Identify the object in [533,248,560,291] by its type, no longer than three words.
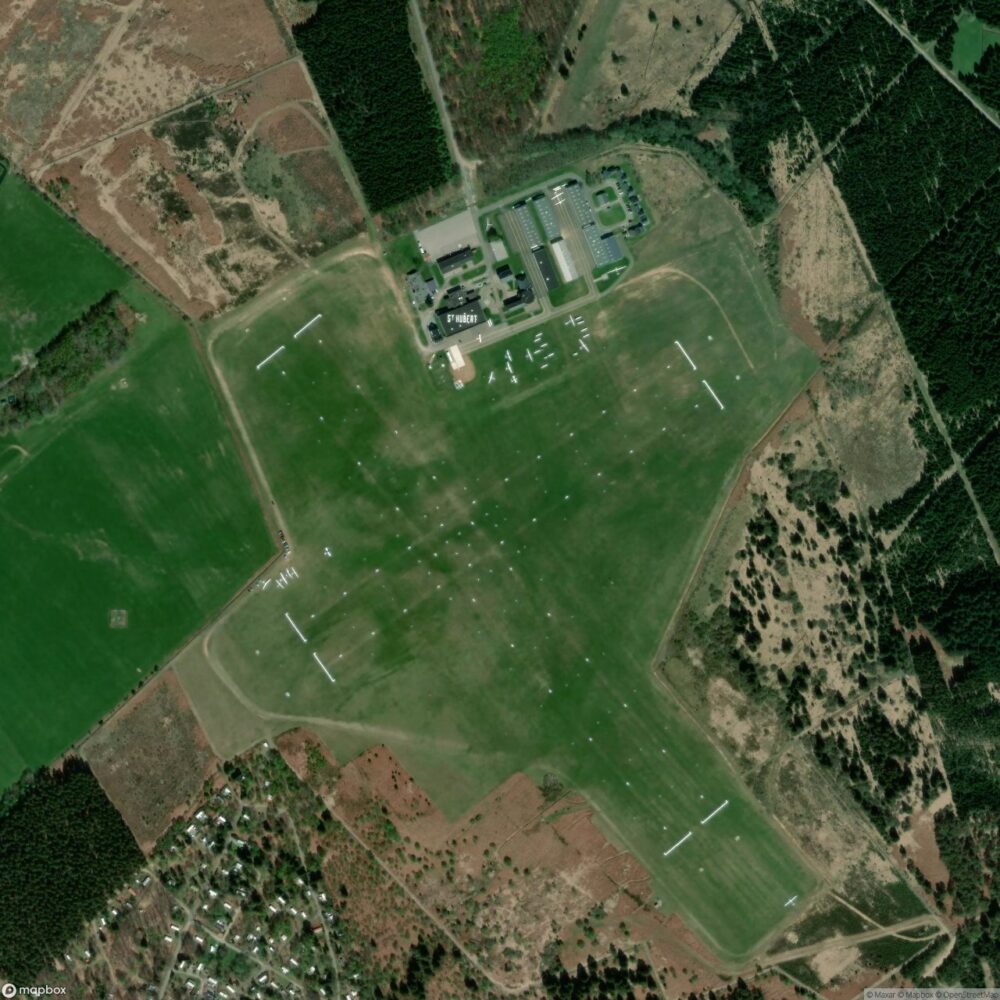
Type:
hangar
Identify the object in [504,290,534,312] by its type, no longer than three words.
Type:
building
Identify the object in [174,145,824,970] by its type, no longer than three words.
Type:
airport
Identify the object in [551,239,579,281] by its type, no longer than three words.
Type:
hangar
